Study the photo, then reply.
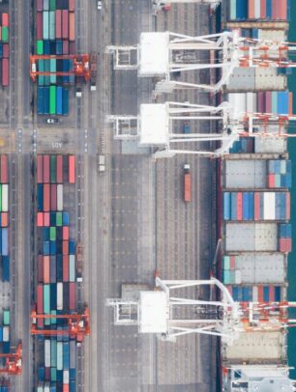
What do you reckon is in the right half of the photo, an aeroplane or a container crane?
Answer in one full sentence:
The feature located in the right half of the photo is a container crane.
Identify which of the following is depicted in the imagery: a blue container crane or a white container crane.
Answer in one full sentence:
Visible in the photo is a white container crane.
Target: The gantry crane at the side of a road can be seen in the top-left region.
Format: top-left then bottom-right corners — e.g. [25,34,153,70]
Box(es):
[29,53,92,88]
